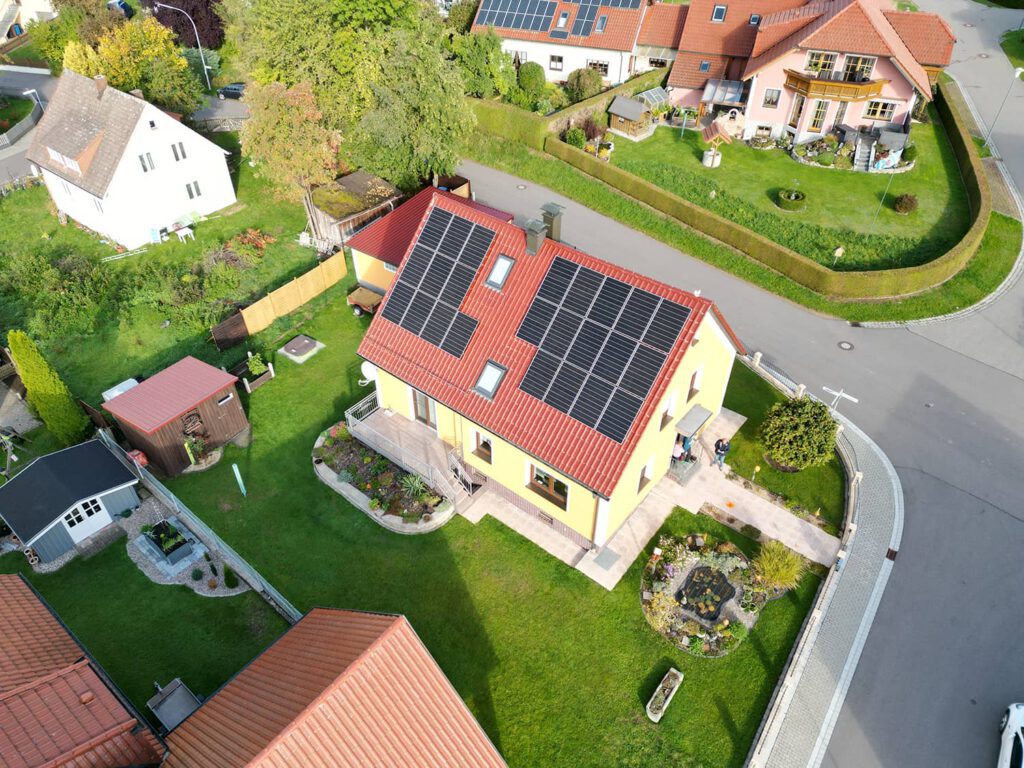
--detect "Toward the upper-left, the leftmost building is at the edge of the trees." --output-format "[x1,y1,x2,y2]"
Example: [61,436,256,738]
[25,67,233,249]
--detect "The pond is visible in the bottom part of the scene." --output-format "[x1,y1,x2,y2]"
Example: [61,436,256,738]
[676,566,736,620]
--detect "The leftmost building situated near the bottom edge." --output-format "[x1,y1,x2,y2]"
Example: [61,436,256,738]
[0,568,164,768]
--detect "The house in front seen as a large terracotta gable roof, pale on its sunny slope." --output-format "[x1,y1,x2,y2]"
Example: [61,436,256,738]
[121,605,509,768]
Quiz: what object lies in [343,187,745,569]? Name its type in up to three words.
house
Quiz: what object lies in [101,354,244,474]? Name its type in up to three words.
shed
